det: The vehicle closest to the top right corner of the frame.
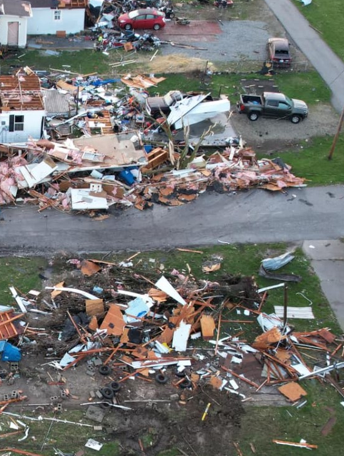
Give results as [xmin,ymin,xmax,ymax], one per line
[267,36,294,64]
